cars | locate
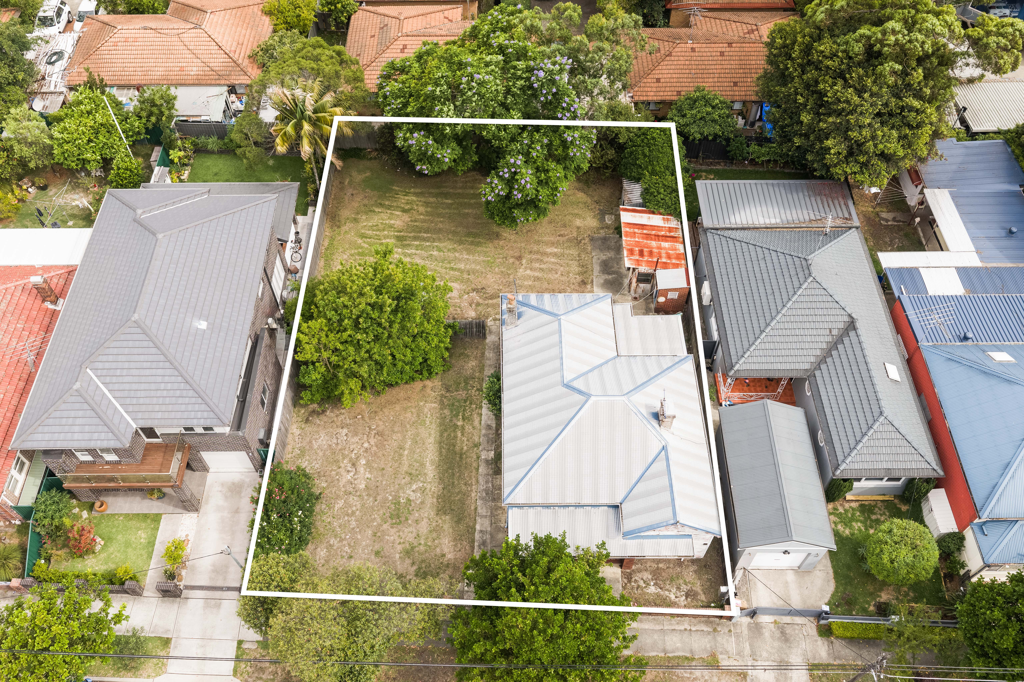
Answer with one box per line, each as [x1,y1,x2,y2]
[30,0,71,33]
[71,0,115,36]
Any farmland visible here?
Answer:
No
